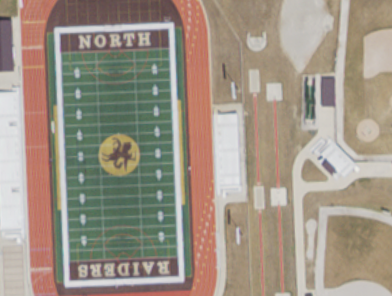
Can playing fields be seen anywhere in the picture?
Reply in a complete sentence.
Yes, the photo shows a playing field.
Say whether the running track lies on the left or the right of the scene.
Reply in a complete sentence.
It is on the left.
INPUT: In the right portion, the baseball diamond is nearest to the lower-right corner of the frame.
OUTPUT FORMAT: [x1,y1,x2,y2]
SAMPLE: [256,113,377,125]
[316,206,392,296]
